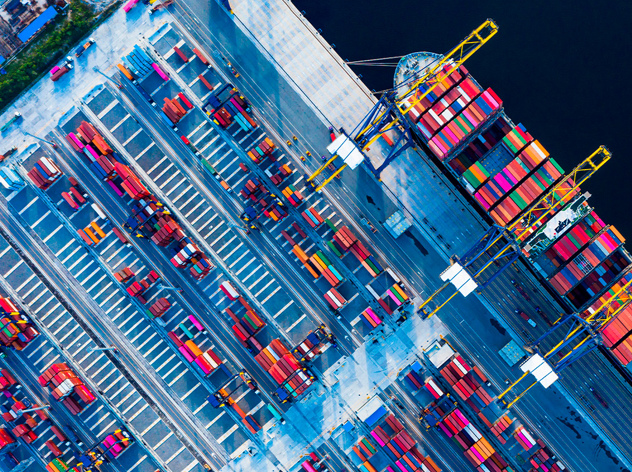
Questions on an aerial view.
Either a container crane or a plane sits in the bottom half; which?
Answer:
container crane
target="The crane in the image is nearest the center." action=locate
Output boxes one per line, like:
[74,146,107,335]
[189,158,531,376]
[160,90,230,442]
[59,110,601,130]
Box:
[243,193,294,238]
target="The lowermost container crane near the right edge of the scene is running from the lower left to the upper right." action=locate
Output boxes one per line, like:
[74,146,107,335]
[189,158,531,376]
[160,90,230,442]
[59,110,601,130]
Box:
[497,279,632,409]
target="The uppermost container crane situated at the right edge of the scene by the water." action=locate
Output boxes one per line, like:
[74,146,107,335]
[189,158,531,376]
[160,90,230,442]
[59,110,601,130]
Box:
[418,144,613,318]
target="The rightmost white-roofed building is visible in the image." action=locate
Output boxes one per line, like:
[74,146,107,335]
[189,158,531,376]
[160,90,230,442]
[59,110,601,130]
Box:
[425,341,454,366]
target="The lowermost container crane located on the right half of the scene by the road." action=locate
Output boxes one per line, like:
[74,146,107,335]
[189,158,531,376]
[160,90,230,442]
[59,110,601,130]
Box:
[418,387,461,429]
